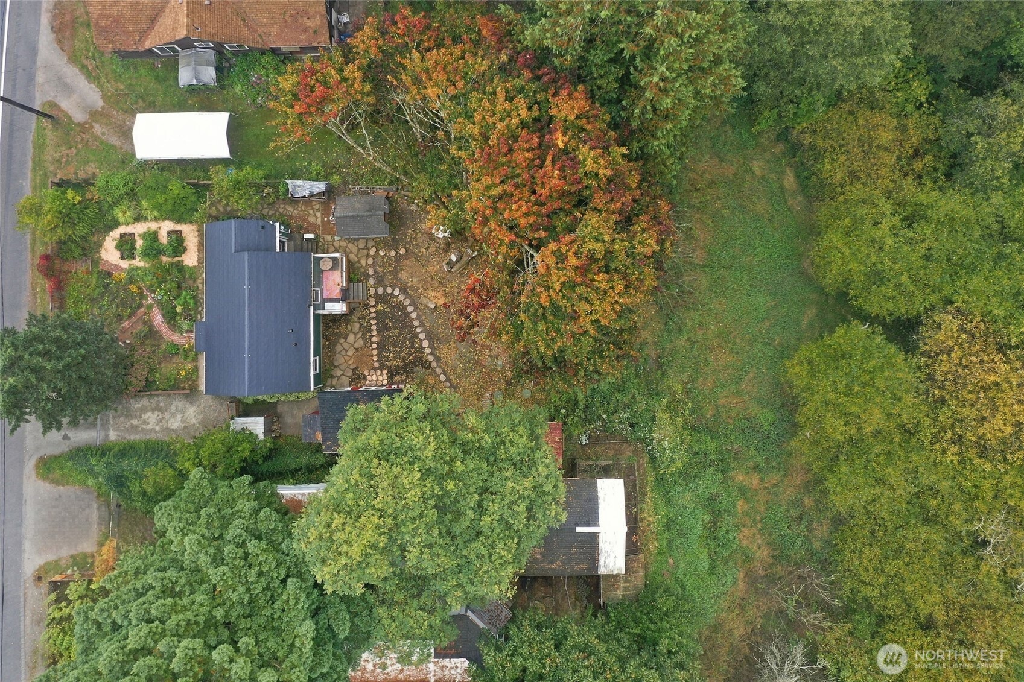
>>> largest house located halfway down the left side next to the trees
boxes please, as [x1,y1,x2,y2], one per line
[194,218,333,397]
